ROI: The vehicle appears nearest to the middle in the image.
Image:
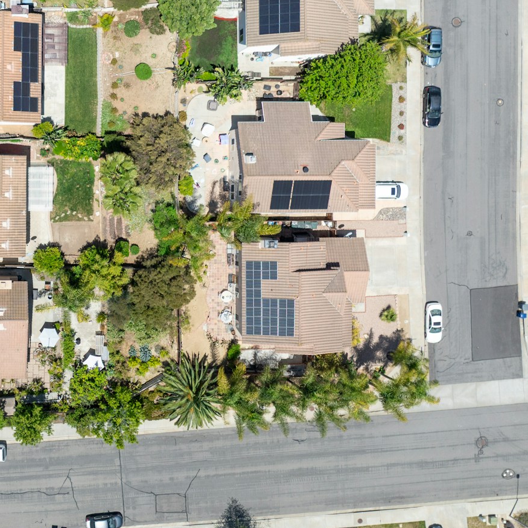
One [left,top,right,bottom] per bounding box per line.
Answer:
[376,181,413,200]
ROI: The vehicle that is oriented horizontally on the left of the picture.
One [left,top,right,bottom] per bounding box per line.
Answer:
[84,511,124,528]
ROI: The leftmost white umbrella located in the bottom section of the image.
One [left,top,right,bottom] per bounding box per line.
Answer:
[38,328,60,348]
